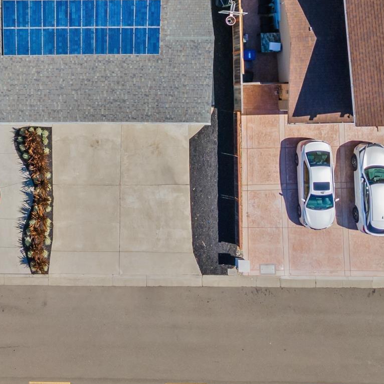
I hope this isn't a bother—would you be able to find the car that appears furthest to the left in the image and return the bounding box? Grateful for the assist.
[291,138,339,232]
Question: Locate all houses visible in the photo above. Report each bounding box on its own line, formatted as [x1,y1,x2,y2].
[279,0,384,128]
[0,0,218,124]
